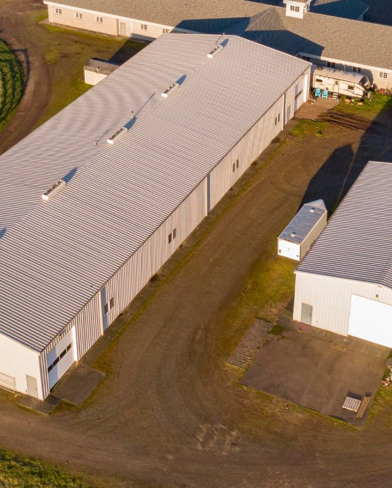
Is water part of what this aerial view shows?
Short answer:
No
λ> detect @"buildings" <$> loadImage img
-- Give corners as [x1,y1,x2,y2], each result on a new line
[291,161,392,348]
[0,32,314,401]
